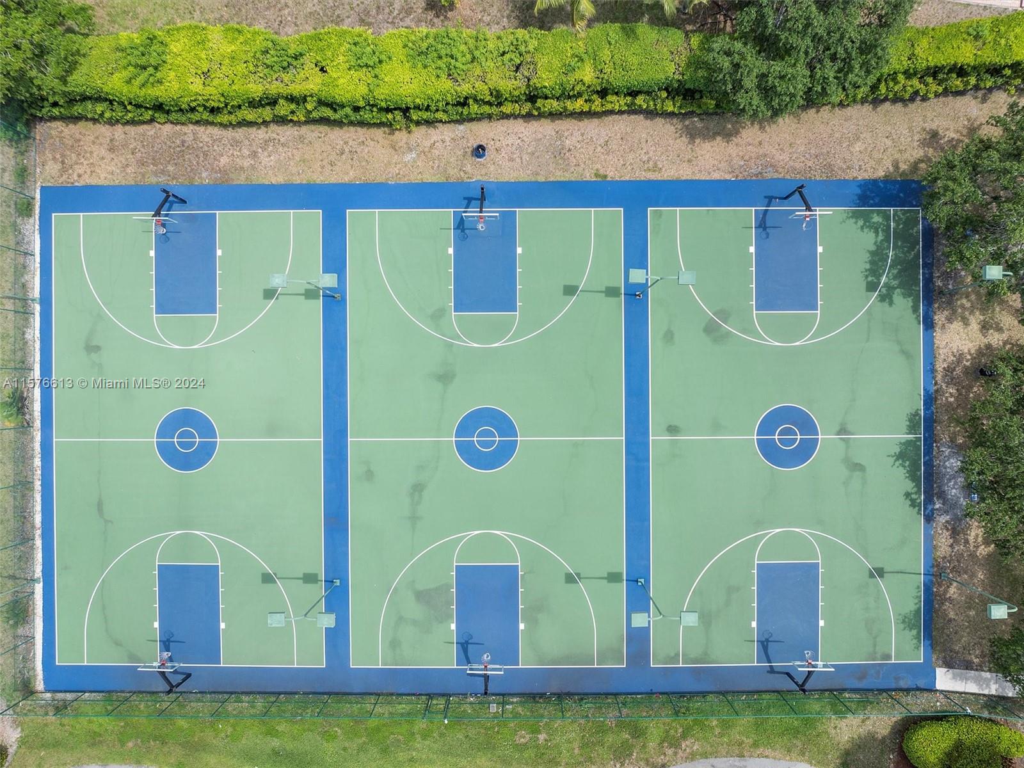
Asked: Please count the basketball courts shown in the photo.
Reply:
3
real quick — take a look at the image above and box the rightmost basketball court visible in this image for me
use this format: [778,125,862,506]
[648,208,923,667]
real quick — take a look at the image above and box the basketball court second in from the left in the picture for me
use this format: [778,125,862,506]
[346,208,626,668]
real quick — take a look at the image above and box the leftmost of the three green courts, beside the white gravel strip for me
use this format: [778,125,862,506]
[52,210,325,667]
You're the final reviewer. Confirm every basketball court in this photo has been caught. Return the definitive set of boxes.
[346,208,626,668]
[648,208,923,667]
[52,210,325,667]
